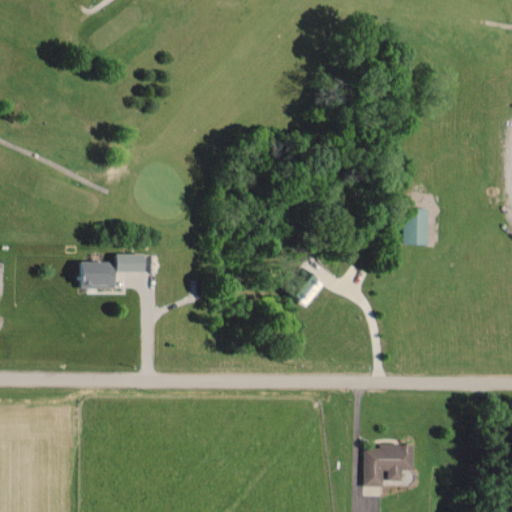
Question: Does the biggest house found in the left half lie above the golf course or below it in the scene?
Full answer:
The position of the biggest house found in the left half is below the golf course.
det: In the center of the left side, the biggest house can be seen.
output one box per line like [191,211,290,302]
[77,262,116,289]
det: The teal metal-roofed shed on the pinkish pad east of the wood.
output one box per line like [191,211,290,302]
[402,208,428,246]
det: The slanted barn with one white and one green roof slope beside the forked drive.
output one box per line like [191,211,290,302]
[295,270,329,307]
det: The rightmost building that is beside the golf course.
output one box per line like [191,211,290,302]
[117,254,147,272]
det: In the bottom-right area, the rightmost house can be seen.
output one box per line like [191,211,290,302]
[364,444,414,486]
